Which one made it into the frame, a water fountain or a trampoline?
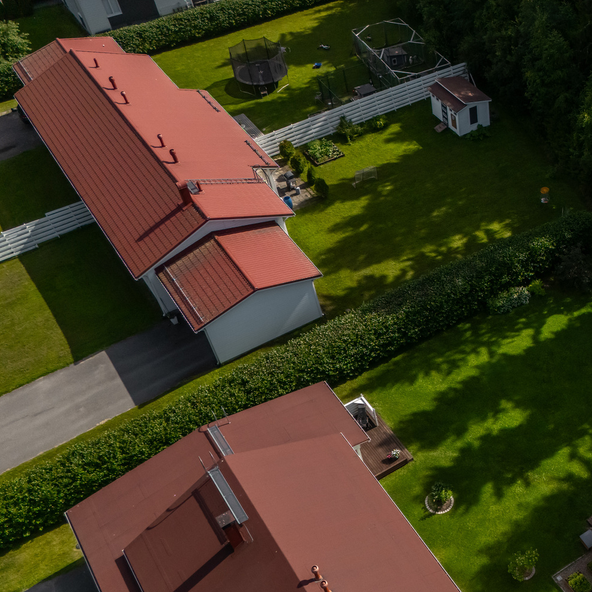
trampoline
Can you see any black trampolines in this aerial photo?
Yes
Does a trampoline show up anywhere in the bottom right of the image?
No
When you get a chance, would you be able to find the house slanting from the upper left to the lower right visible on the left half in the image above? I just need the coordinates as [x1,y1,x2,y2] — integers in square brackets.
[11,35,326,357]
